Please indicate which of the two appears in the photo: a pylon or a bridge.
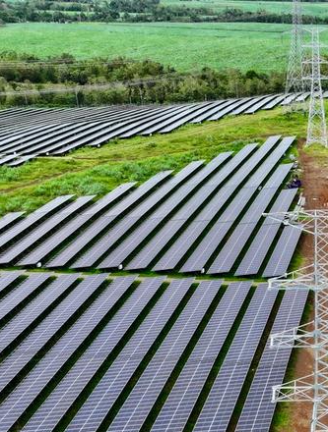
pylon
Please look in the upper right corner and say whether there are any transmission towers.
Yes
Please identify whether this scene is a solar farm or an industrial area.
solar farm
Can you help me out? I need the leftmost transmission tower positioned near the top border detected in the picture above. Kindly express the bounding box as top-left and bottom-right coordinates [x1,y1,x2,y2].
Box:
[280,0,305,97]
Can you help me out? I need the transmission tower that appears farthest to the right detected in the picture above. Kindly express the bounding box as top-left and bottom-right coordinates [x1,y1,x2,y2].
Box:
[300,19,328,146]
